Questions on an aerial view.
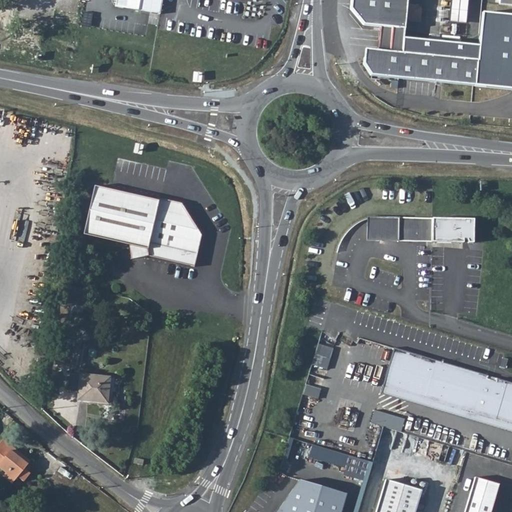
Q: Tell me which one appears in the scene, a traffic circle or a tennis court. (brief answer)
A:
traffic circle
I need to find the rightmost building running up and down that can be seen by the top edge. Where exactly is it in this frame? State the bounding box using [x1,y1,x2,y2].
[473,11,512,92]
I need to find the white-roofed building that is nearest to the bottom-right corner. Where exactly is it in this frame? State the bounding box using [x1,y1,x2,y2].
[465,476,501,512]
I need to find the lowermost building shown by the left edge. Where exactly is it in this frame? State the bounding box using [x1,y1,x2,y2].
[0,431,31,482]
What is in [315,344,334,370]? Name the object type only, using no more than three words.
shed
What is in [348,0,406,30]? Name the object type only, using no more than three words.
building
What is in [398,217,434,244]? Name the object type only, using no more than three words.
building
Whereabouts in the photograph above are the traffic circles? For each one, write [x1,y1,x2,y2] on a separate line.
[236,72,354,190]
